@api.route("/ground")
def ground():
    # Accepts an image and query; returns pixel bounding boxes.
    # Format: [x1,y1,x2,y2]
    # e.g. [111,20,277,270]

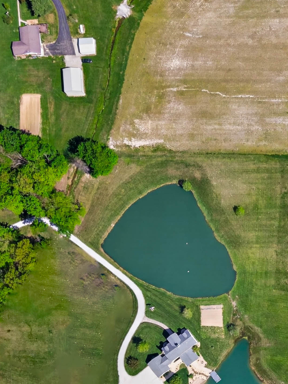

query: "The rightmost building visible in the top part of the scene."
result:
[78,38,97,57]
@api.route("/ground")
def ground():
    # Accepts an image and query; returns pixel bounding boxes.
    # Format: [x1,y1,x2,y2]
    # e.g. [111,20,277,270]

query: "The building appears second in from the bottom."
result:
[62,67,85,96]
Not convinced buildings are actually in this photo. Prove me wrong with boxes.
[12,25,53,59]
[148,329,201,380]
[62,67,85,96]
[78,38,97,57]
